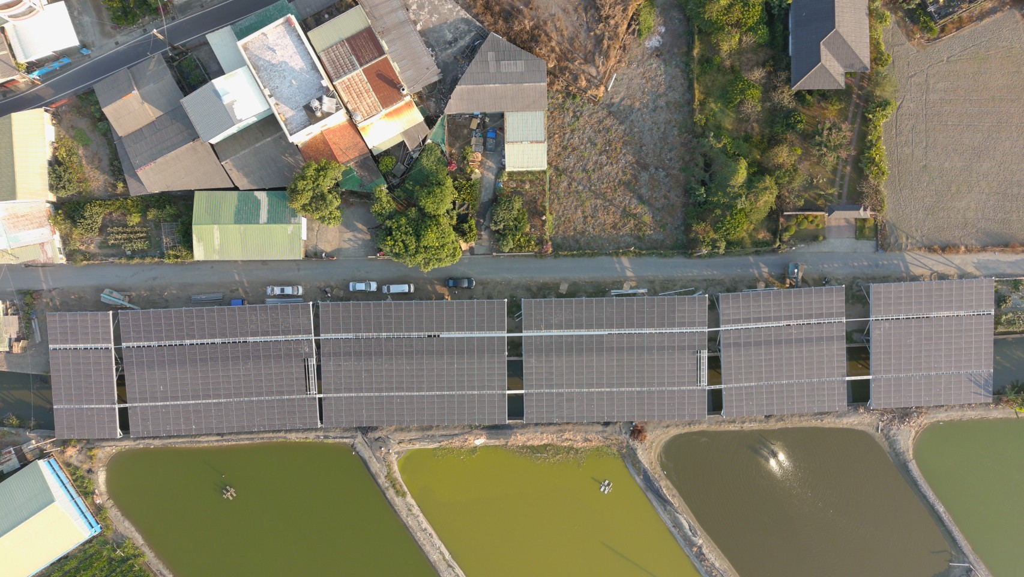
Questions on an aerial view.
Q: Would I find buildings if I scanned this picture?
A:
Yes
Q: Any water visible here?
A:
Yes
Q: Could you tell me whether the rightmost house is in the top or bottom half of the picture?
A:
top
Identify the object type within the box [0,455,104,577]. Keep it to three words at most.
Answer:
building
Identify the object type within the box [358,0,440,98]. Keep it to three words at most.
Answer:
house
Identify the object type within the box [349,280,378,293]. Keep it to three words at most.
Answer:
vehicle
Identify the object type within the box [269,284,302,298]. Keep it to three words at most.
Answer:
car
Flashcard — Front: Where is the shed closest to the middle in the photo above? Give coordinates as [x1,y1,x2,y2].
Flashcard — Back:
[505,111,547,174]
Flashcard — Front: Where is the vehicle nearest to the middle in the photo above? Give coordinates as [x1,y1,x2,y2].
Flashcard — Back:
[446,277,475,290]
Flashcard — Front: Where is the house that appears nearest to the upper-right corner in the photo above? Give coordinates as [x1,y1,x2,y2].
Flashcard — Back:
[785,0,871,90]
